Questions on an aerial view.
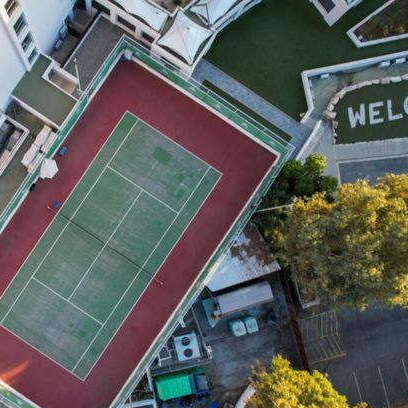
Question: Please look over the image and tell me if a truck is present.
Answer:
Yes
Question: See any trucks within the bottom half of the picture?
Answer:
Yes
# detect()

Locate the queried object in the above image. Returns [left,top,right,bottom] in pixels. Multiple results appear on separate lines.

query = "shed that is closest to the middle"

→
[204,222,279,290]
